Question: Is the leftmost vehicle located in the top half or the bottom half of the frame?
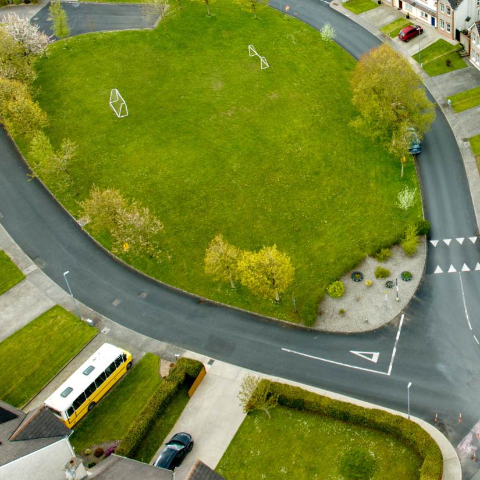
bottom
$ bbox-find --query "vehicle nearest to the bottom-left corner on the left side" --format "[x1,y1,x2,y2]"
[38,347,134,427]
